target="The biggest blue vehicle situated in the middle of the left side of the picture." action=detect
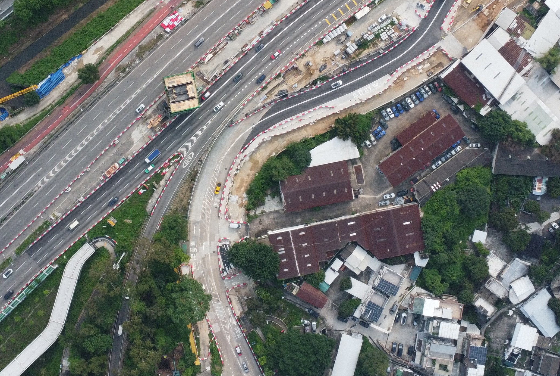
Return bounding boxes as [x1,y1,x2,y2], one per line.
[144,149,160,164]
